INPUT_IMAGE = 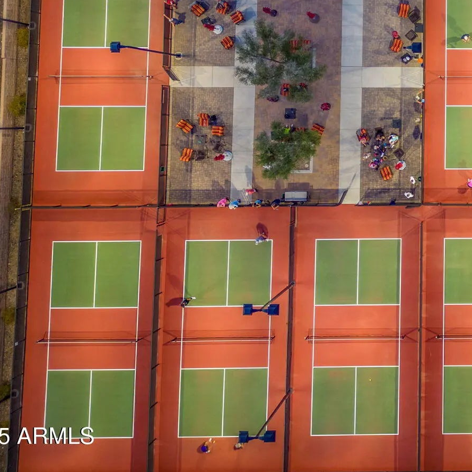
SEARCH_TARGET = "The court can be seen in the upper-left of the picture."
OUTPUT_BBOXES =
[33,0,172,205]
